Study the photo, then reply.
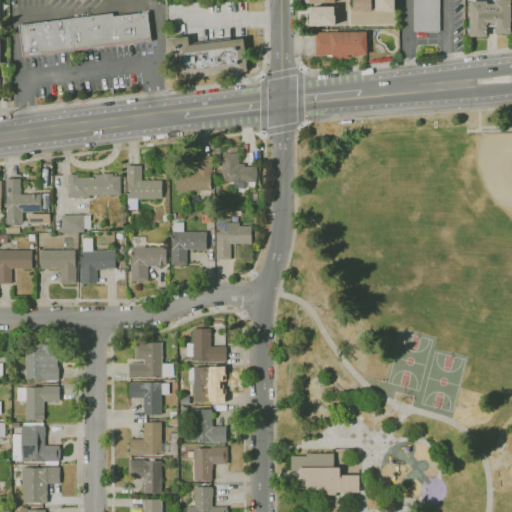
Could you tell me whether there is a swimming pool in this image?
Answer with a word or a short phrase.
No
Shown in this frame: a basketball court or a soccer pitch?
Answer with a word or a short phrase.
basketball court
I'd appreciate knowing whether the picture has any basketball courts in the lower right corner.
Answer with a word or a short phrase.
Yes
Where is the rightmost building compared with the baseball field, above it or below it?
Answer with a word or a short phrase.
above it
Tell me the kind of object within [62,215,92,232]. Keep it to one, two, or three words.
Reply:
building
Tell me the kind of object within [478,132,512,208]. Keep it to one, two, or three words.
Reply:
baseball field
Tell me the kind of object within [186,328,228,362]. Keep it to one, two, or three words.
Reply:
house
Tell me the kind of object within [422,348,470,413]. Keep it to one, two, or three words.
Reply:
basketball court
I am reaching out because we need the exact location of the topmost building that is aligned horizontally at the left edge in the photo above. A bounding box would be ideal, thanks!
[18,10,152,57]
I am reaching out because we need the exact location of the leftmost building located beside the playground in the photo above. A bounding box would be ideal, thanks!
[292,454,360,496]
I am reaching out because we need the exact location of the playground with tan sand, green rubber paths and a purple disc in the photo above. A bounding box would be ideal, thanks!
[384,442,447,502]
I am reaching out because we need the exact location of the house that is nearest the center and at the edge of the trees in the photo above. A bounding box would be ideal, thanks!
[216,216,252,259]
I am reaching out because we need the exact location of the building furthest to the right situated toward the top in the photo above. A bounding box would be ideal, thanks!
[468,1,512,37]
